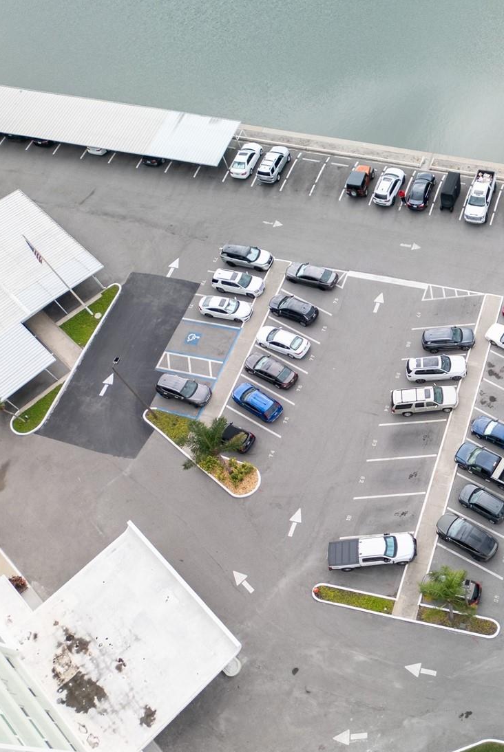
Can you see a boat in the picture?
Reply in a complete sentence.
No, the frame has no boat in it.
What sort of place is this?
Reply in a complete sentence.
The area seen from above is a parking lot.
